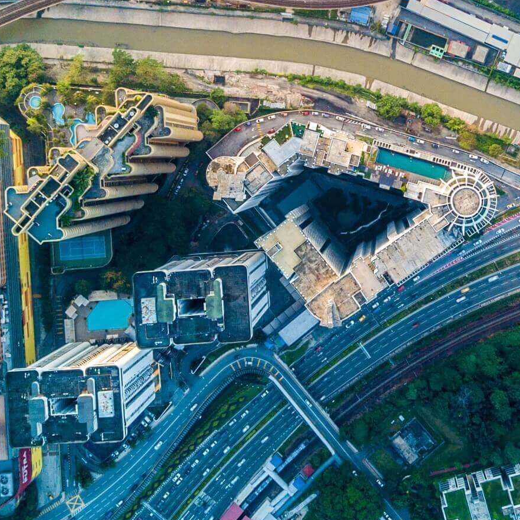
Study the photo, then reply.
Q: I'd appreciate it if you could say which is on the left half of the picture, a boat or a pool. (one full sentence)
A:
Looking on the left half of the picture, you will find a pool.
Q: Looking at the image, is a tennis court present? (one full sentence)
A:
Yes, I can see a tennis court in this picture.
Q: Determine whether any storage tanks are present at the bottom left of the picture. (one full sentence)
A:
No, no storage tank appears at the bottom left of the picture.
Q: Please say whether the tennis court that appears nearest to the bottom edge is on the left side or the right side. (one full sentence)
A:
It is on the left.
